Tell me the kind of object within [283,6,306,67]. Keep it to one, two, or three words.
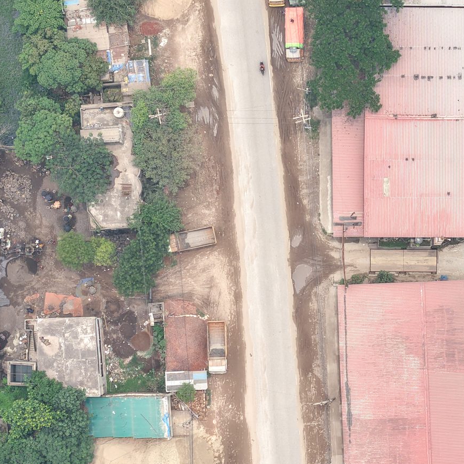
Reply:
truck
